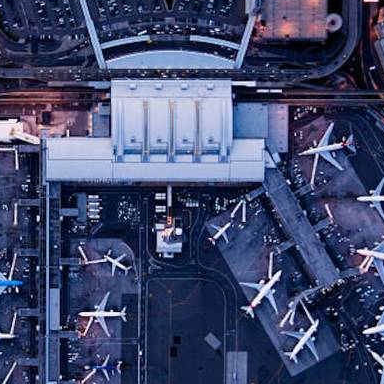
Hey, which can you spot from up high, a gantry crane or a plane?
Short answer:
plane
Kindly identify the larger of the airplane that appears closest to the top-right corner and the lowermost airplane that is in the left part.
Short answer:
the airplane that appears closest to the top-right corner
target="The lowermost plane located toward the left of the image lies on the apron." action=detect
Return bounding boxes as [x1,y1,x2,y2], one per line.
[86,355,122,380]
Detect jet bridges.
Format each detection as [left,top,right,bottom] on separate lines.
[0,148,19,171]
[79,369,97,384]
[364,257,374,275]
[77,245,86,264]
[280,308,295,328]
[79,316,94,338]
[311,153,319,190]
[290,309,297,326]
[300,300,316,324]
[325,203,335,225]
[359,255,370,274]
[10,311,18,335]
[8,251,18,281]
[84,257,108,265]
[231,200,245,219]
[4,360,18,384]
